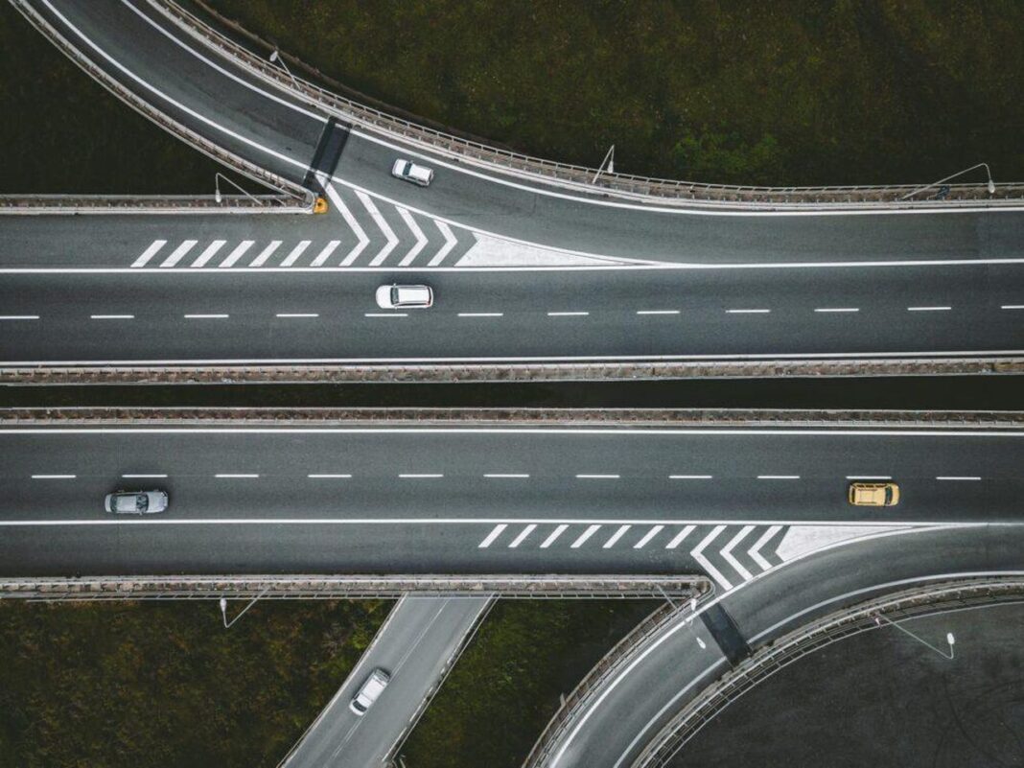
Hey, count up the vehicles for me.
five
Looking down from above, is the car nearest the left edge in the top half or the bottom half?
bottom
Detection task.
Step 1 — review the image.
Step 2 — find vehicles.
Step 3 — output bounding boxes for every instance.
[106,489,169,518]
[376,282,433,311]
[390,157,438,189]
[350,668,388,714]
[846,481,897,509]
